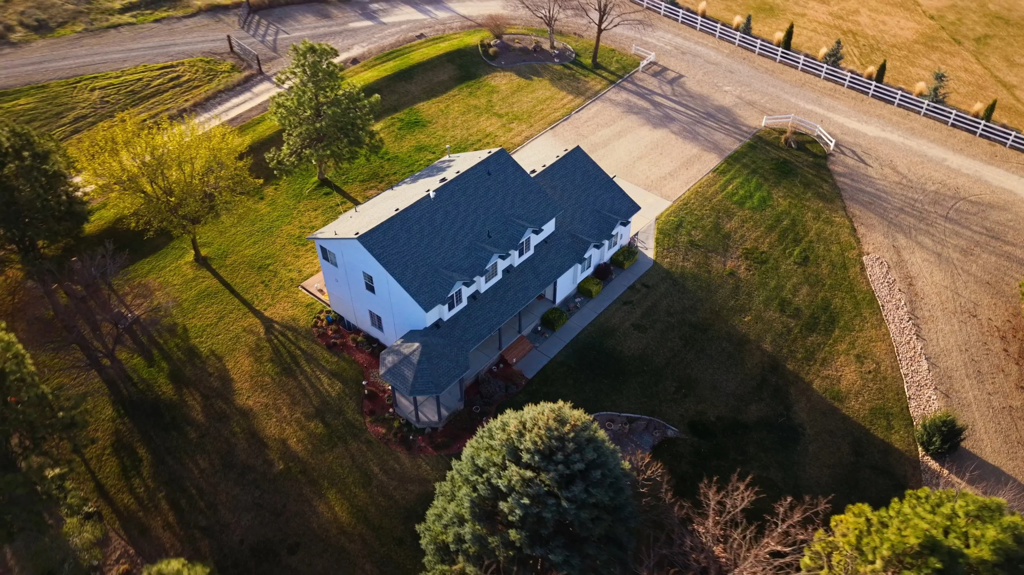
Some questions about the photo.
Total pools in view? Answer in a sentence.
The photo contains no pools.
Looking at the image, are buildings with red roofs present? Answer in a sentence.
No, I find no building with a red roof anywhere in the image.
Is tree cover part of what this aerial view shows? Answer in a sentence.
Yes, tree cover shows up in the scene.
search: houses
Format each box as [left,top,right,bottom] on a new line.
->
[297,139,642,430]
